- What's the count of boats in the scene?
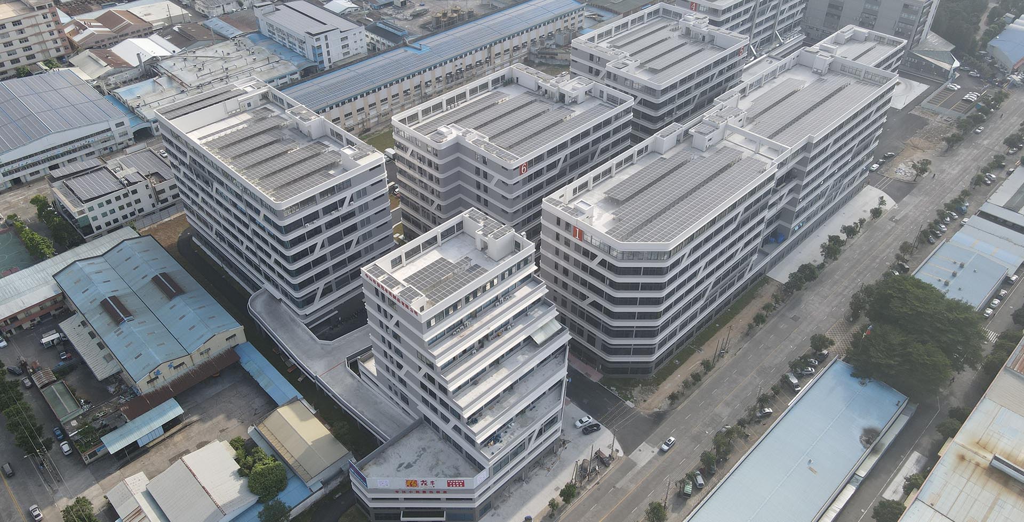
0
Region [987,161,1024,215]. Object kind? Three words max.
building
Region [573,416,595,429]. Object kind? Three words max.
vehicle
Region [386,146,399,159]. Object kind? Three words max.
vehicle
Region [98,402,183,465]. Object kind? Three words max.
shed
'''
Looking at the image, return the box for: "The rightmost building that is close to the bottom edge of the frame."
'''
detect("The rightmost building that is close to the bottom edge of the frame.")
[893,341,1024,522]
